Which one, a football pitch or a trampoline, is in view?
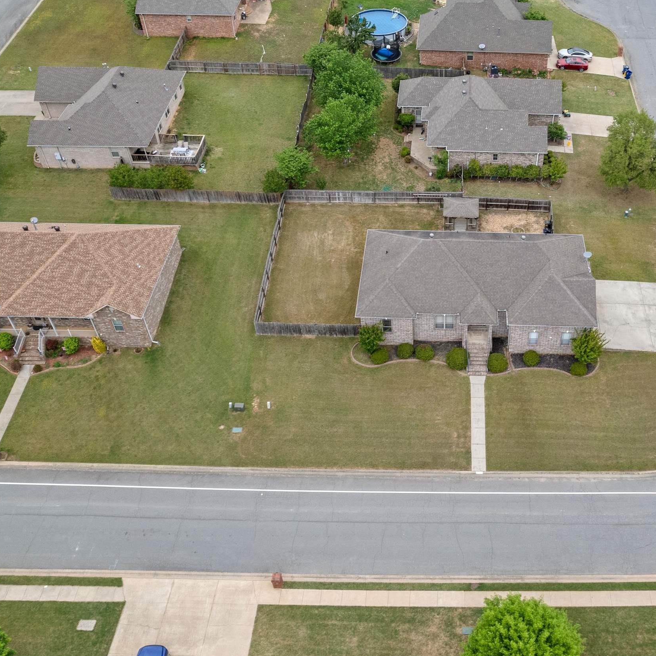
trampoline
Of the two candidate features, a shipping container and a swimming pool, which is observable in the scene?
swimming pool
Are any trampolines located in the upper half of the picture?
Yes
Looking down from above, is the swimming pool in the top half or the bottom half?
top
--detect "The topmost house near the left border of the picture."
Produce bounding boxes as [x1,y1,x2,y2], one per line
[26,65,191,169]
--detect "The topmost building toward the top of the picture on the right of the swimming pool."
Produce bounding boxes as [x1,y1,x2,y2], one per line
[417,0,553,71]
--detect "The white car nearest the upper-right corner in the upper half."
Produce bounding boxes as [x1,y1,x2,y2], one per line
[558,47,593,62]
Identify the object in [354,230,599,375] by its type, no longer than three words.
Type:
house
